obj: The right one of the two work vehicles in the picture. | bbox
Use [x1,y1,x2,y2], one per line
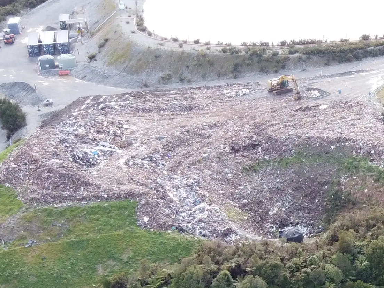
[266,68,304,94]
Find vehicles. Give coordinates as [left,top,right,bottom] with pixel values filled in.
[266,68,304,94]
[0,25,16,45]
